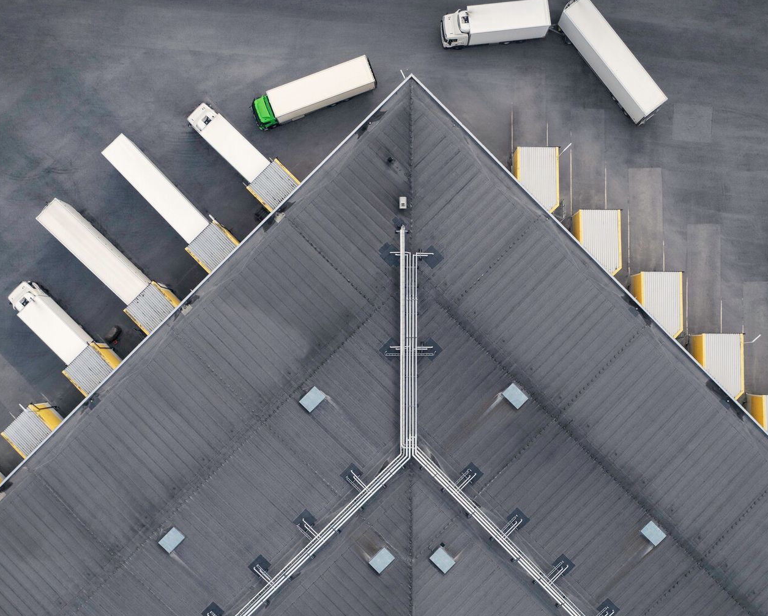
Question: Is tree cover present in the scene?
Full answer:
No, there's no tree cover in this view.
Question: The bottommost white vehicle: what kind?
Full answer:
Specifically, the bottommost white vehicle is a truck.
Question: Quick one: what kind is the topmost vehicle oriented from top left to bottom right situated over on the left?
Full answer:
In the photo, the topmost vehicle oriented from top left to bottom right situated over on the left shows up as a truck.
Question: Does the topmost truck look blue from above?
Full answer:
No, the topmost truck is actually white.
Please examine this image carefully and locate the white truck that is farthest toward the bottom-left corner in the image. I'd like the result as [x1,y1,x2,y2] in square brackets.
[7,279,96,364]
